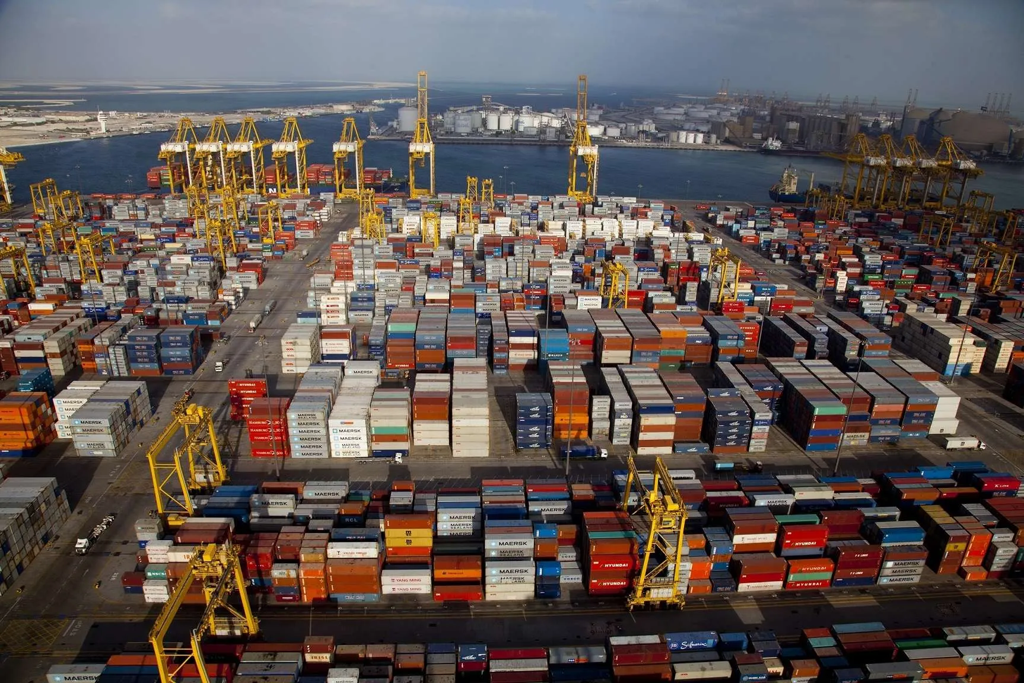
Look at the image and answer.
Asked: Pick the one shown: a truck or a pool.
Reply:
truck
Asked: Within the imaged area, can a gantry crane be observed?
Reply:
Yes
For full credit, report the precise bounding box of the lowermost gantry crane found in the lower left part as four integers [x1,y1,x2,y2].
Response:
[152,530,263,683]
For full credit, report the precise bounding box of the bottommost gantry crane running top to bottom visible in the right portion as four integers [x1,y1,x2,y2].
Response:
[621,455,691,607]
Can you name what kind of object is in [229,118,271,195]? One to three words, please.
container crane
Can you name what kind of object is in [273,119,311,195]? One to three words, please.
container crane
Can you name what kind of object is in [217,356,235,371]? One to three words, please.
vehicle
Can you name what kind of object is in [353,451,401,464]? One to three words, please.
vehicle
